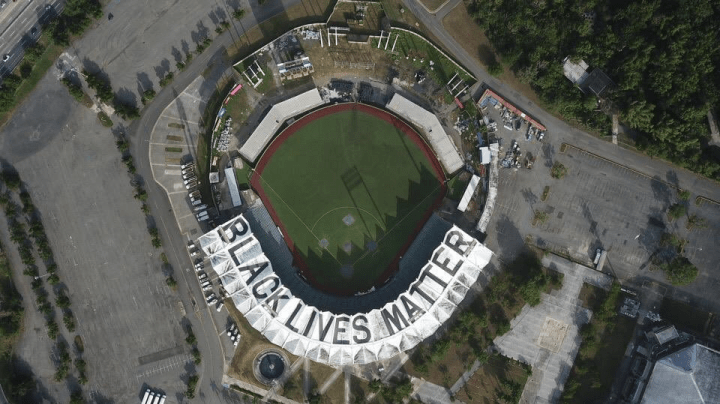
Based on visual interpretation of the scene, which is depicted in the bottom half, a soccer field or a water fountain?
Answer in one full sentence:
There is a water fountain in the bottom half.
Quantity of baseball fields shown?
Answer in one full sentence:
The picture shows just 1 baseball field.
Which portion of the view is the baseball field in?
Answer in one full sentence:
You can find the baseball field in the center area of the picture.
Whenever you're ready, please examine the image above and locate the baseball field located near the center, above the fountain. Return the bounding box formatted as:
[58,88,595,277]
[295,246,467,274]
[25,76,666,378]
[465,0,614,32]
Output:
[250,103,447,296]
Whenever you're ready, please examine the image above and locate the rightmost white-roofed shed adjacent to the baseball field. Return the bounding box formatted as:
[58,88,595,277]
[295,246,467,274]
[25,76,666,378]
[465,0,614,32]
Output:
[457,174,480,212]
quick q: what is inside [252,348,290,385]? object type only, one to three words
fountain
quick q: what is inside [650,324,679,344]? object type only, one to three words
building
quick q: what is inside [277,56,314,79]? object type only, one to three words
building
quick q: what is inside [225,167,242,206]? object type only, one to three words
shed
